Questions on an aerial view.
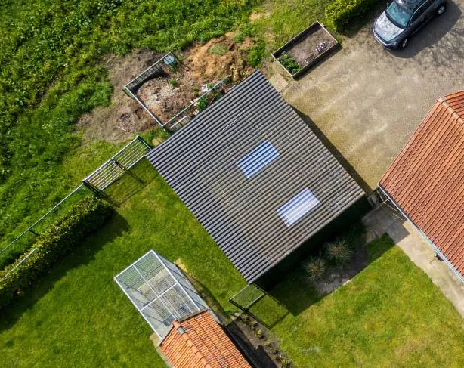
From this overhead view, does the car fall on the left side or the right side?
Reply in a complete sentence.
The car is on the right side of the image.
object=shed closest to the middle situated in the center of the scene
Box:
[146,66,368,288]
